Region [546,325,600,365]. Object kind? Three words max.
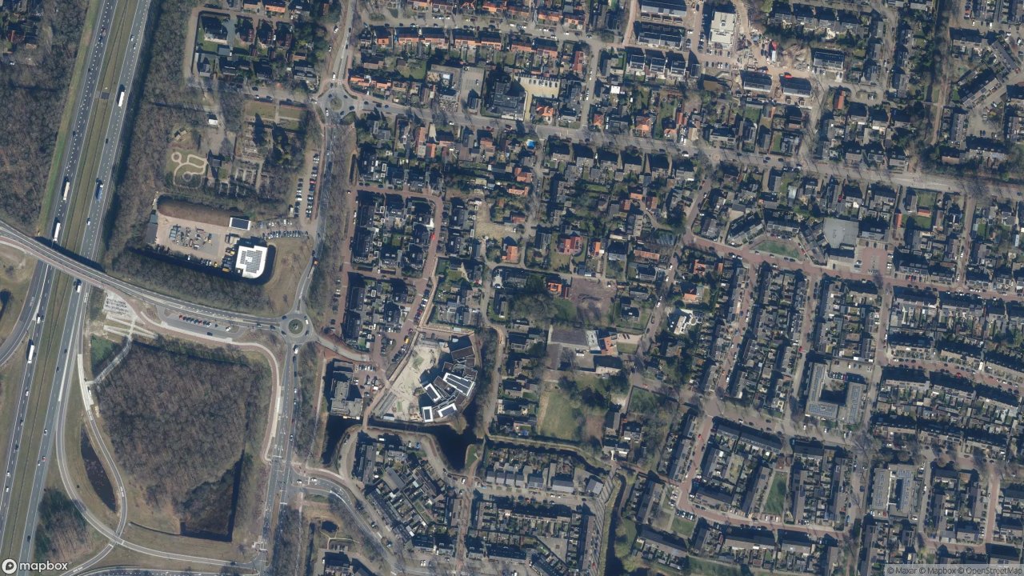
building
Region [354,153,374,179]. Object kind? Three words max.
house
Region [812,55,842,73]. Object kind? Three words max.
house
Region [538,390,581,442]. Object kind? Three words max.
sports field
